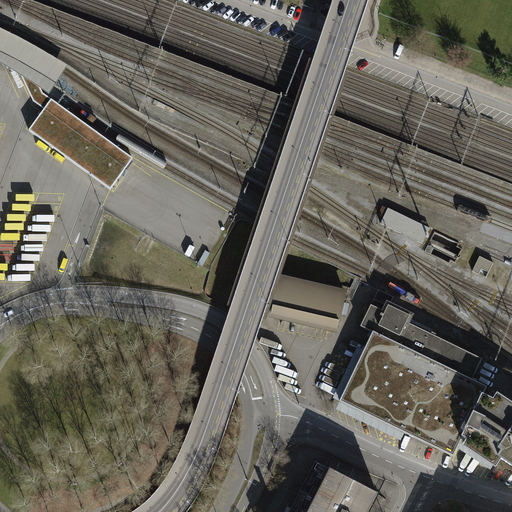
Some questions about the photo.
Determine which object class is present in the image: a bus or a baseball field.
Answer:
bus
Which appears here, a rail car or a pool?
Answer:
rail car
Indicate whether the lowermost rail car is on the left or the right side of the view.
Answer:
right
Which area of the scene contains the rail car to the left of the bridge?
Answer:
top left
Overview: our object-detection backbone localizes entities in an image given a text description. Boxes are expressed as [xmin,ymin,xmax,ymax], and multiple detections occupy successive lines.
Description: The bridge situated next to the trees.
[136,0,368,512]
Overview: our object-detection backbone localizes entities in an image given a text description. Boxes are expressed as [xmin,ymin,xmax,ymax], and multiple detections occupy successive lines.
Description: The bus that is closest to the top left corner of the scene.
[34,141,63,164]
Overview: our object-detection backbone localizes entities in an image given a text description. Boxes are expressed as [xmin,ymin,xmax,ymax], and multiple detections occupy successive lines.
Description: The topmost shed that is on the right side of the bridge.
[380,206,426,244]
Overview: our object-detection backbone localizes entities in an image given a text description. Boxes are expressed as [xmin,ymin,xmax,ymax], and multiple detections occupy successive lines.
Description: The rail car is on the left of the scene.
[64,98,103,127]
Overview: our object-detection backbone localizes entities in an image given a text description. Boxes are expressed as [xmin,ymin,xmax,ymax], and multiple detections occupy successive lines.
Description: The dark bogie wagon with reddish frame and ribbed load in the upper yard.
[458,204,491,224]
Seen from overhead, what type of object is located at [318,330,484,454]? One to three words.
building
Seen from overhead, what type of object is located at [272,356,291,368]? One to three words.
vehicle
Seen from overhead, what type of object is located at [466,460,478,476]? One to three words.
vehicle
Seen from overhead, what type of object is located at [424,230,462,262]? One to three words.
shed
